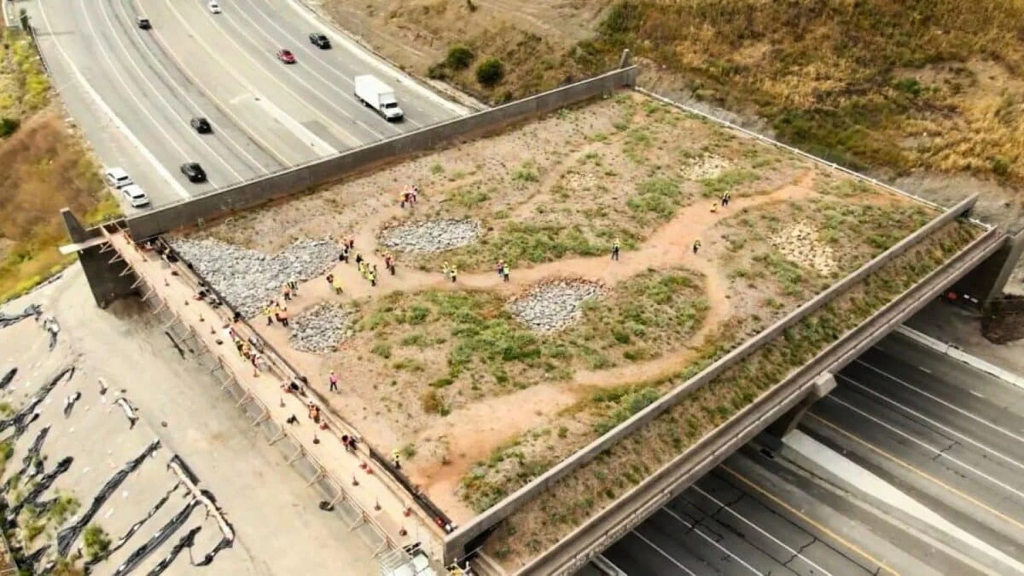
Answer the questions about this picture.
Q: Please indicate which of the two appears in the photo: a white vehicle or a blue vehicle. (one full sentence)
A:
Visible in the photo is a white vehicle.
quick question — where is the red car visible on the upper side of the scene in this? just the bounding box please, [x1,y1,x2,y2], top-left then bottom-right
[276,48,296,62]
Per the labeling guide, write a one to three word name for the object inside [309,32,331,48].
vehicle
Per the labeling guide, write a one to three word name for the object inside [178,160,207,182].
car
